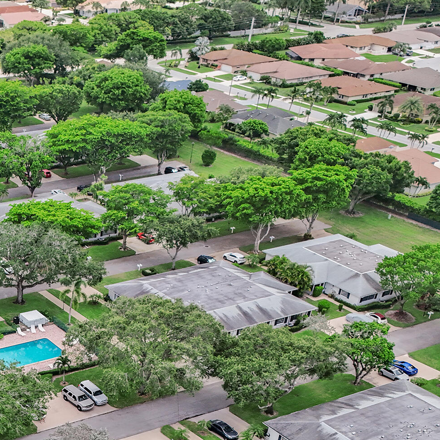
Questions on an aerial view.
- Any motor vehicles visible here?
Yes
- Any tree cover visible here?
Yes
